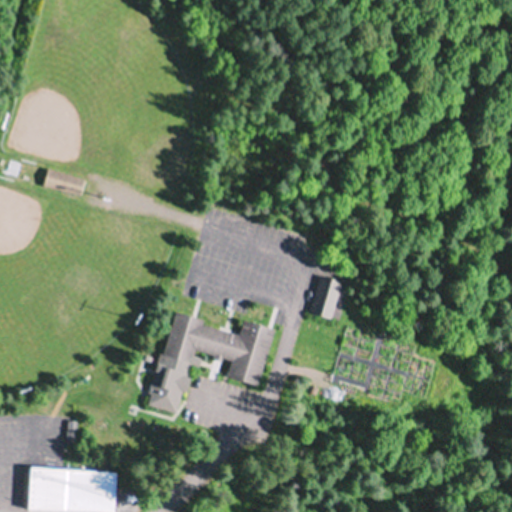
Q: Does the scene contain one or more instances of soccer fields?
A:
No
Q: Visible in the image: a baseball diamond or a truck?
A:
baseball diamond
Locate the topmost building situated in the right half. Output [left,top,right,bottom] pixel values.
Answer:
[314,276,342,320]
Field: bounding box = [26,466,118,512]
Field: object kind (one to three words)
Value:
building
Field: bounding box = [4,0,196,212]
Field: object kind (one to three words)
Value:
baseball field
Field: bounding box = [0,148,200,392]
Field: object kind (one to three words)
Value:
baseball field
